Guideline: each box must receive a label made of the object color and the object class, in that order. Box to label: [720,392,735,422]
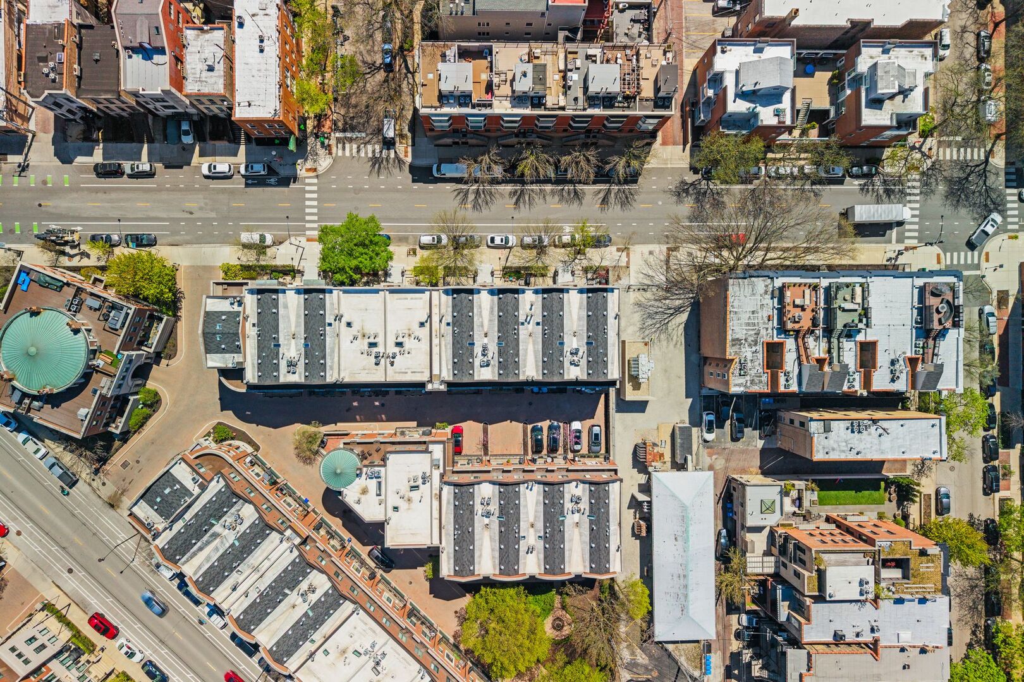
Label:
black car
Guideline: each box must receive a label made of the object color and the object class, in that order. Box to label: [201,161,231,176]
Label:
white car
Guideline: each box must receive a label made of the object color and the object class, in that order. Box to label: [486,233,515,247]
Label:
white car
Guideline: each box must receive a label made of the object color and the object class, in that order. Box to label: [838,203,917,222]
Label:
white vehicle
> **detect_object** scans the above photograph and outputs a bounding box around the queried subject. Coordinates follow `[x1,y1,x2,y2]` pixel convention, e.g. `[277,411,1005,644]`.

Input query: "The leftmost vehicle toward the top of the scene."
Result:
[27,227,77,243]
